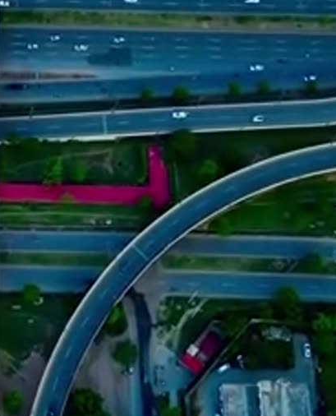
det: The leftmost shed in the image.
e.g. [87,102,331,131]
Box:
[178,330,220,376]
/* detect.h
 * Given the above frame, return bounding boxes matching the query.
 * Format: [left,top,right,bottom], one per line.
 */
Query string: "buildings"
[217,380,249,416]
[252,377,312,416]
[178,330,220,376]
